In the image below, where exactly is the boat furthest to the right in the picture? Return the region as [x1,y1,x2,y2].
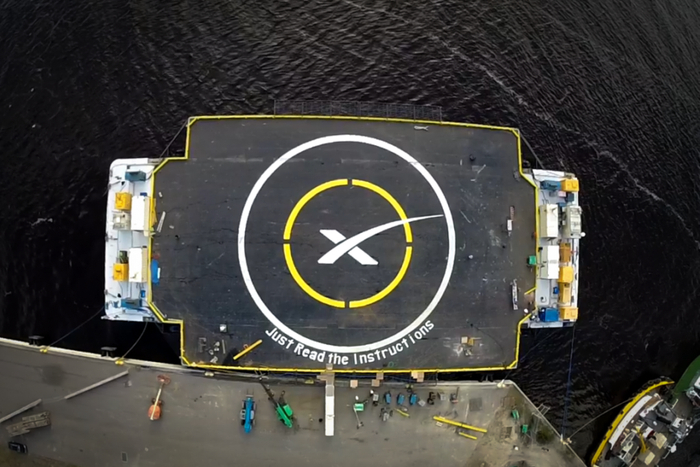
[672,353,700,416]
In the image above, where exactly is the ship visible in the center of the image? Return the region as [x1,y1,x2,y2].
[100,101,582,373]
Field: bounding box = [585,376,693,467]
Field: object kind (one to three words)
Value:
boat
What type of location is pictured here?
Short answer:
port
